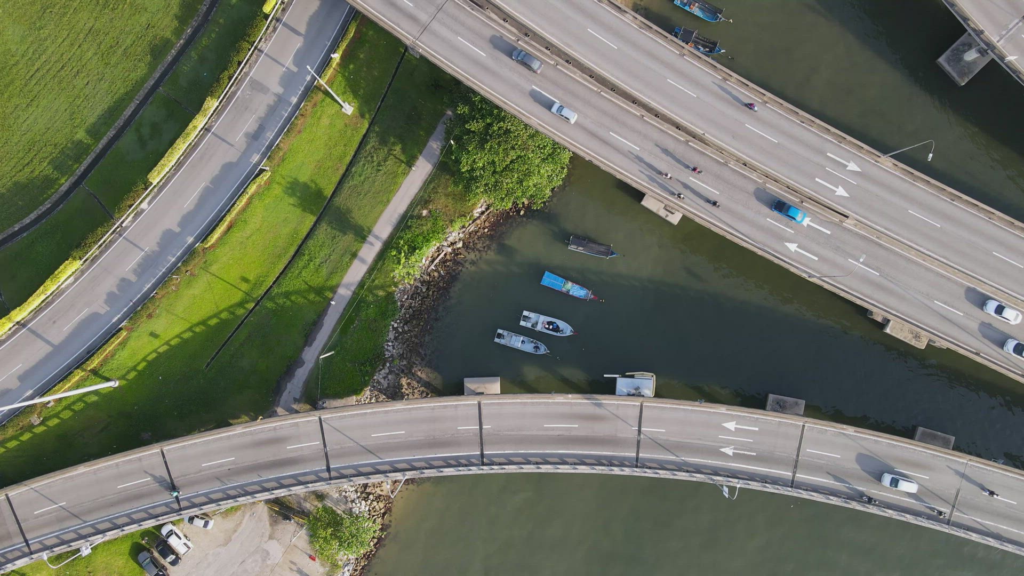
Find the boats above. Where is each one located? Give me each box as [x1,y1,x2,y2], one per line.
[673,0,726,26]
[541,271,598,302]
[494,330,550,354]
[567,237,617,261]
[672,25,725,54]
[518,311,576,335]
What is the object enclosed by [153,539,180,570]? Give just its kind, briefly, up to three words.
car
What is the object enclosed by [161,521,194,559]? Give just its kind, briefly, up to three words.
truck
